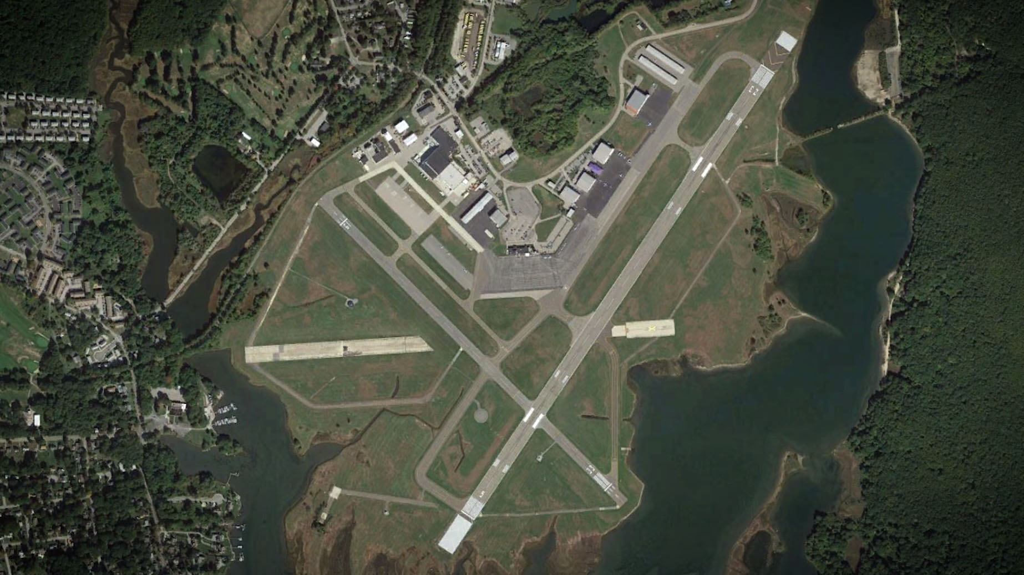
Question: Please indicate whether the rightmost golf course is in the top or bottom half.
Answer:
top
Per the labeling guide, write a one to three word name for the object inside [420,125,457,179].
building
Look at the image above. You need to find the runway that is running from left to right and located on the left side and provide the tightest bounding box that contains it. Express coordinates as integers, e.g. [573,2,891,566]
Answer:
[245,336,433,363]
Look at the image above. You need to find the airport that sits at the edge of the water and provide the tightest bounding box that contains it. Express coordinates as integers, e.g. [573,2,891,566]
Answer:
[245,31,797,554]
